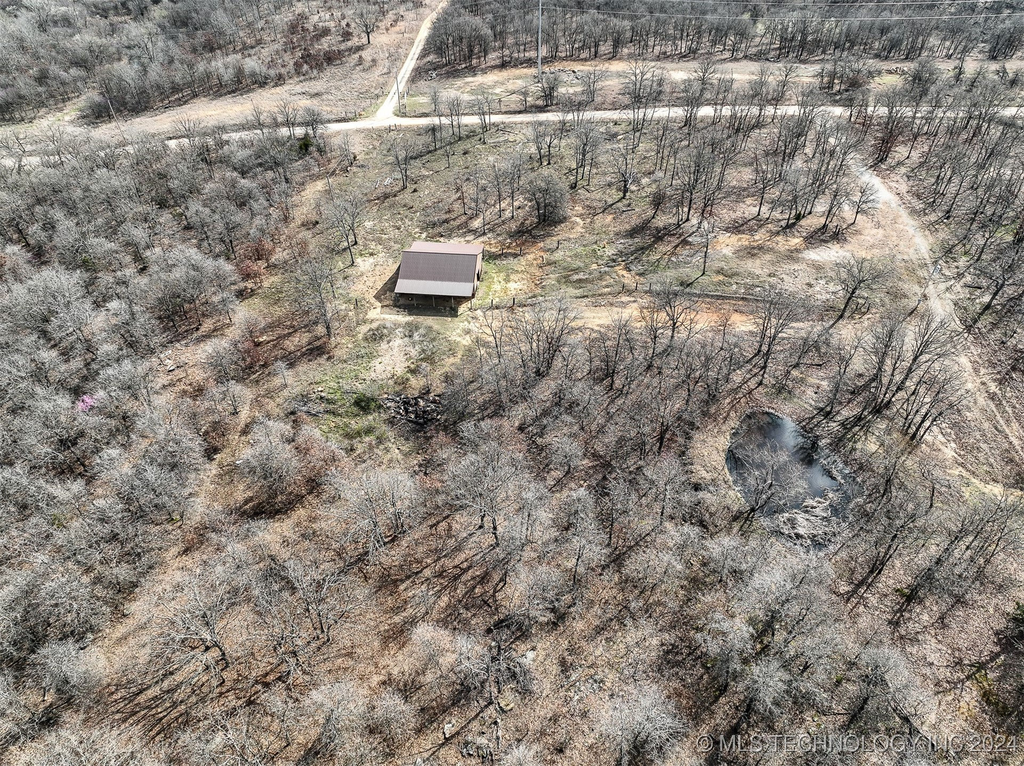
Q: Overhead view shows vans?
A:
No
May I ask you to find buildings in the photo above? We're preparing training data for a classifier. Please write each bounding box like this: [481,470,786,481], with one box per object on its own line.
[393,242,486,309]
